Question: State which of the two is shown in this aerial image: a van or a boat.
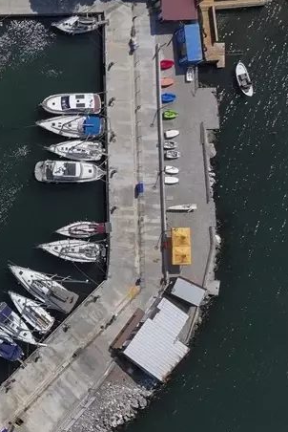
boat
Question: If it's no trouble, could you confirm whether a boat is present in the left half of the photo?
Yes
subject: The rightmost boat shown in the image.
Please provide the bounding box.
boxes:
[236,62,255,98]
